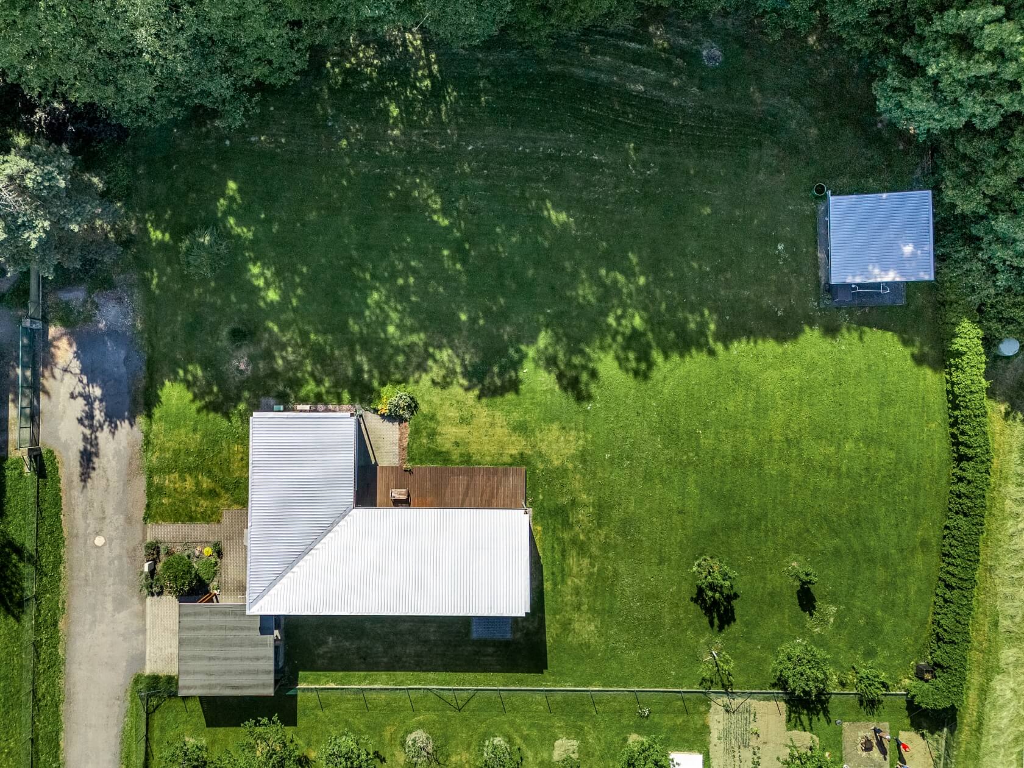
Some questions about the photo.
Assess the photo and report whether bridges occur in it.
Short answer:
No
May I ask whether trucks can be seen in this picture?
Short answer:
No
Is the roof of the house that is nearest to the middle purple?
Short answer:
No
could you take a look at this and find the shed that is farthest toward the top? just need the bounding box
[819,190,935,286]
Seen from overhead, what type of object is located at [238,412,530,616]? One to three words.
house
